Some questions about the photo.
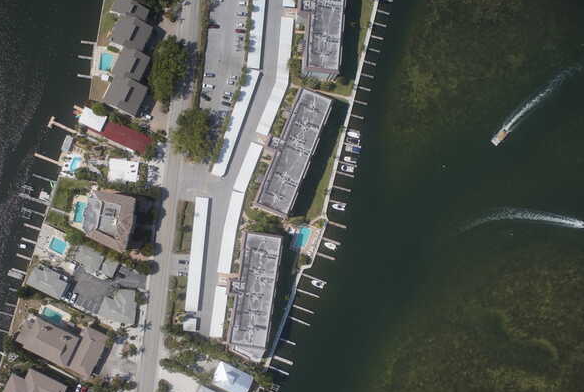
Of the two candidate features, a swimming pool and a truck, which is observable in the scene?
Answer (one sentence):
Visible in the photo is a swimming pool.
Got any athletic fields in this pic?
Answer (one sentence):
No, there isn't any athletic field down there.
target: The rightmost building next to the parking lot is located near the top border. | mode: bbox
[298,0,346,80]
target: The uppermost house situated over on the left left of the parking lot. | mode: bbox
[111,0,151,24]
